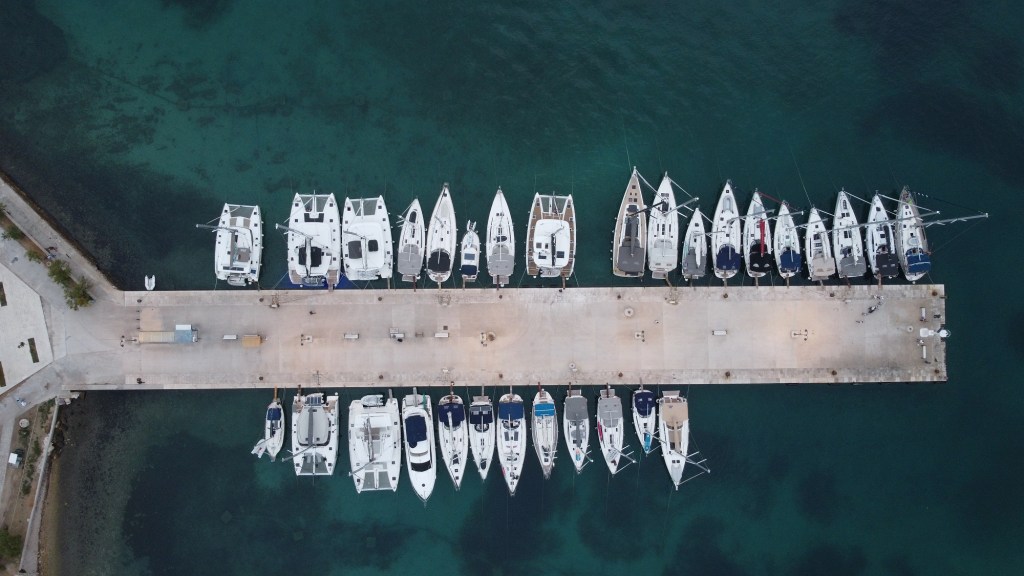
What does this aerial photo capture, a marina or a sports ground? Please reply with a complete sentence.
This looks like a marina.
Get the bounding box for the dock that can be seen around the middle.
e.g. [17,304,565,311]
[123,284,946,389]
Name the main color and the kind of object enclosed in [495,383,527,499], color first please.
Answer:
white boat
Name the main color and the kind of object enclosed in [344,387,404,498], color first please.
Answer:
white boat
